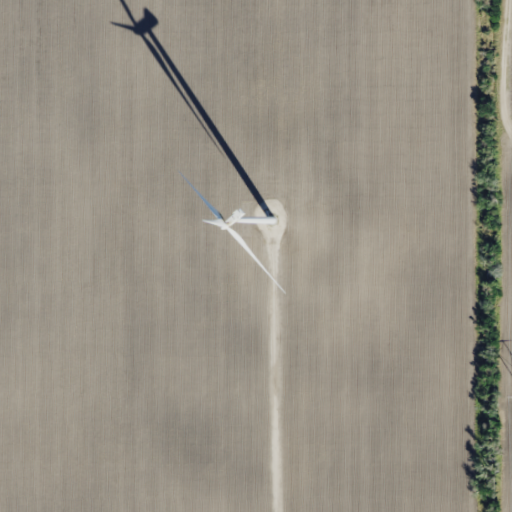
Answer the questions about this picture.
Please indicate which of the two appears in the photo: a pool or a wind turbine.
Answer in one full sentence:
Looking from above, you can make out a wind turbine.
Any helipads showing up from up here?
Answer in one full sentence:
No, there appears to be no helipad in this shot.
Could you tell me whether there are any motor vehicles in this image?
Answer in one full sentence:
No, there isn't any motor vehicle down there.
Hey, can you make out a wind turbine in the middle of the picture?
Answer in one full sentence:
Yes, a wind turbine can be seen in the middle of the picture.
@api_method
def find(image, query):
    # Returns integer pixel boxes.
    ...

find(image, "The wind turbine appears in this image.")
[176,170,285,291]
